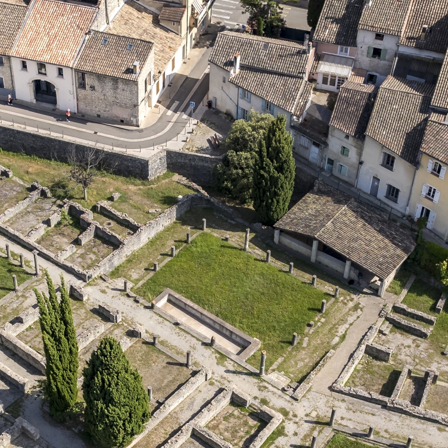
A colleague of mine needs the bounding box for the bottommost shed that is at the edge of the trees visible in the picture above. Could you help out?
[269,197,419,299]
